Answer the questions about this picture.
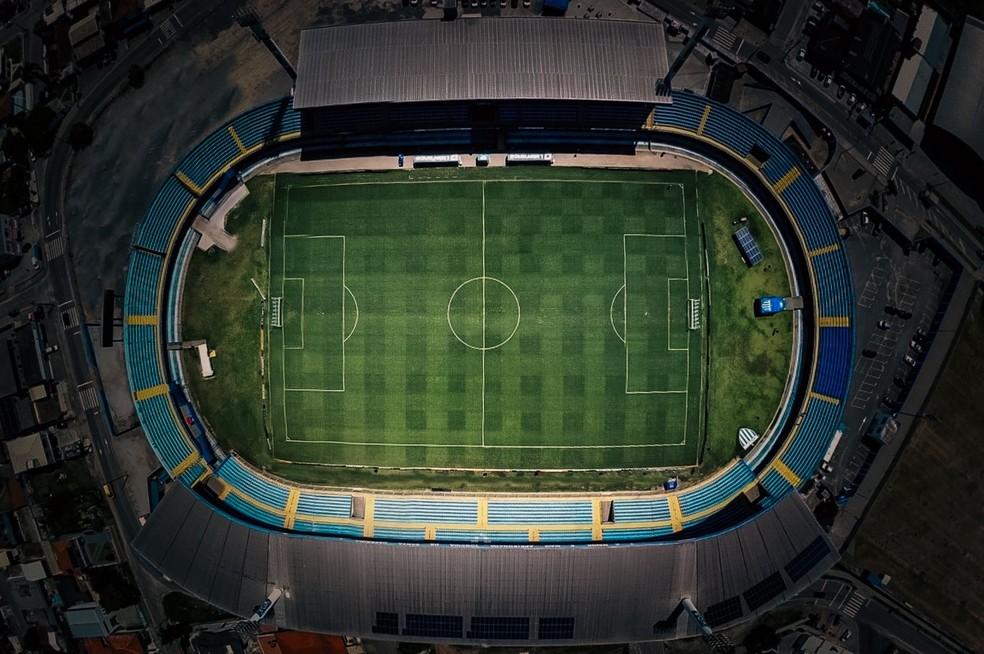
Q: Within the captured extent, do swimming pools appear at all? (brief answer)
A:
No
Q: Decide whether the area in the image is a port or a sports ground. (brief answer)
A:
sports ground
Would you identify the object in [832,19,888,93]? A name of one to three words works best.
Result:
building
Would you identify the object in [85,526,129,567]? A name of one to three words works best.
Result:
house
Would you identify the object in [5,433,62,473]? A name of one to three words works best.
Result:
house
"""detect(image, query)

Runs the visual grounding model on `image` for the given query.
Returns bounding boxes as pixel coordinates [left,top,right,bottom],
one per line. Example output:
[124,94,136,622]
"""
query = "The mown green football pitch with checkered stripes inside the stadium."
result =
[269,170,705,467]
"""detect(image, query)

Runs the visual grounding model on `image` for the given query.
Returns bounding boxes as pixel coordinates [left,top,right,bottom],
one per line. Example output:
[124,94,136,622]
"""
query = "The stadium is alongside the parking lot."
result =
[120,17,859,648]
